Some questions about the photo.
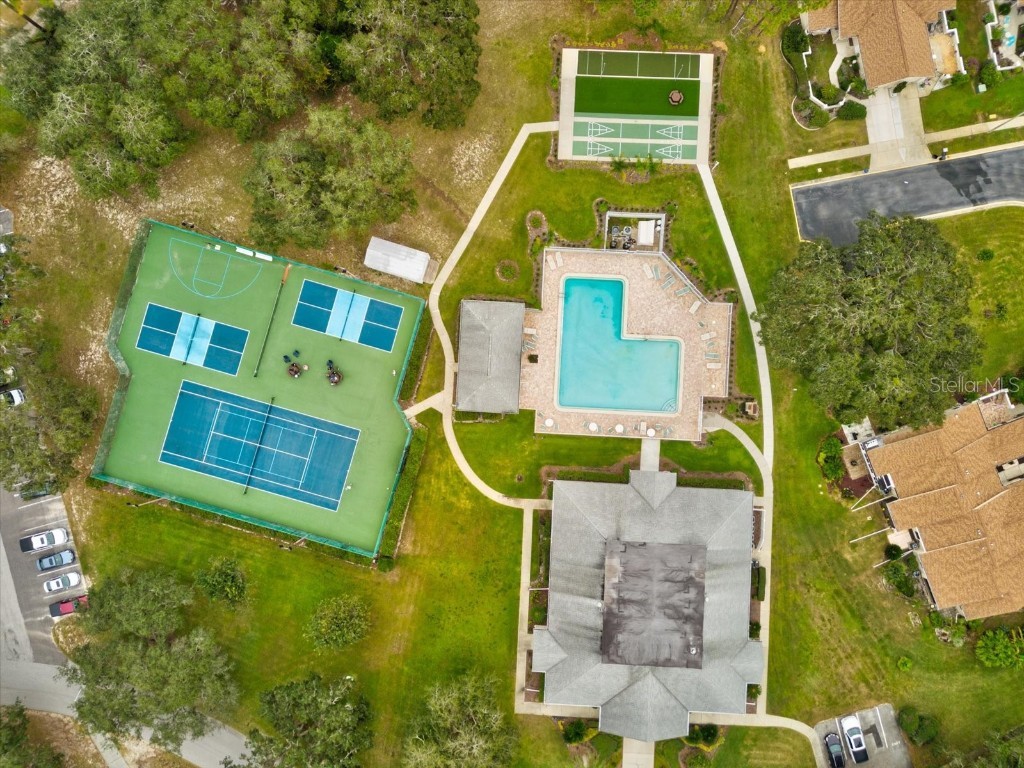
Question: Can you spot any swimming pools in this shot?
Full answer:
Yes, this view includes a swimming pool.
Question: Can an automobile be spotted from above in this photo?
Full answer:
Yes, the photo shows an automobile.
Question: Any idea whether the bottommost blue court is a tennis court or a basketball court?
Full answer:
The bottommost blue court is a tennis court.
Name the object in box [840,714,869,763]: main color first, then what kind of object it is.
white truck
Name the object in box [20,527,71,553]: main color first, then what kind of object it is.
white truck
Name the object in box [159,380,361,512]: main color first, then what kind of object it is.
blue tennis court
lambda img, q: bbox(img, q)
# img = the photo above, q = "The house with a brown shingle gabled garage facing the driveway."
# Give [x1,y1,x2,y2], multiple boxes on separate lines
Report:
[799,0,956,94]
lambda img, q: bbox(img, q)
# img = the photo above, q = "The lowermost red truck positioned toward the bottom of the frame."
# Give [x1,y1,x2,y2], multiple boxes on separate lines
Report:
[48,592,93,618]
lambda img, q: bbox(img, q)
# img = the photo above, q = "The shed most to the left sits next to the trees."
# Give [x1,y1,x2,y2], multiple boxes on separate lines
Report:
[363,235,429,285]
